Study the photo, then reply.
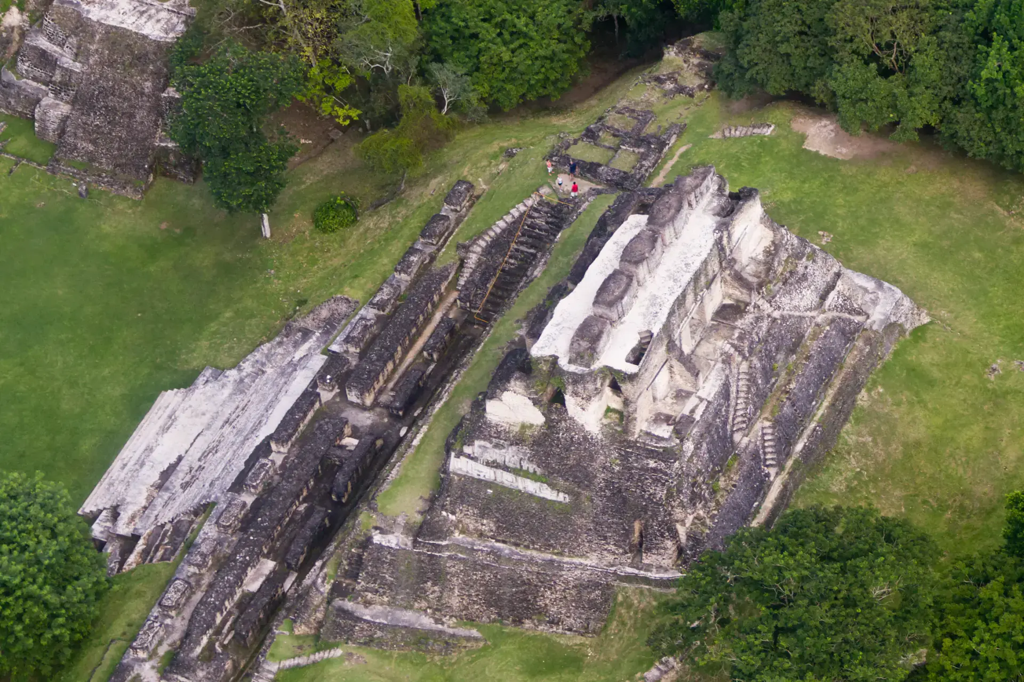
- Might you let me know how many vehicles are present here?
0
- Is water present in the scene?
No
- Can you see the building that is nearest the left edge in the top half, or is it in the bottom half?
top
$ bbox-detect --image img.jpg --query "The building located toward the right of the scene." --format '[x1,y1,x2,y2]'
[302,173,930,654]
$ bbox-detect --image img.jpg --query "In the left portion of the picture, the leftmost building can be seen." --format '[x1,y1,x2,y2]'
[0,0,199,205]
